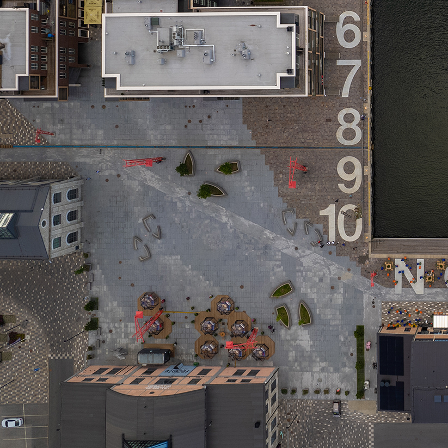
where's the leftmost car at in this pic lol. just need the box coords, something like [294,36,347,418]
[0,418,23,431]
